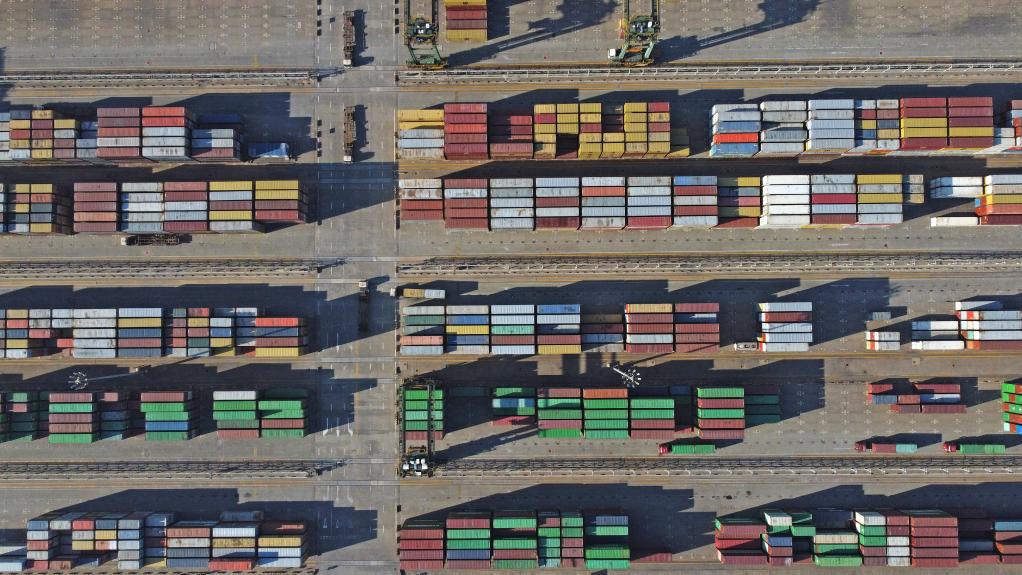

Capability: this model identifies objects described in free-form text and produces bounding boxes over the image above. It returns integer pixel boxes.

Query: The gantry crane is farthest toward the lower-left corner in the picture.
[398,377,446,481]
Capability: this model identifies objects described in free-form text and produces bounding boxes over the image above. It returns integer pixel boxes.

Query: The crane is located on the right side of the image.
[607,0,660,66]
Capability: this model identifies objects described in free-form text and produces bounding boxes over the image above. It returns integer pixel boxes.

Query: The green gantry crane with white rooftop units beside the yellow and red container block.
[402,0,449,68]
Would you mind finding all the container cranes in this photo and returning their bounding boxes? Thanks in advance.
[398,377,446,481]
[607,0,660,66]
[402,0,449,68]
